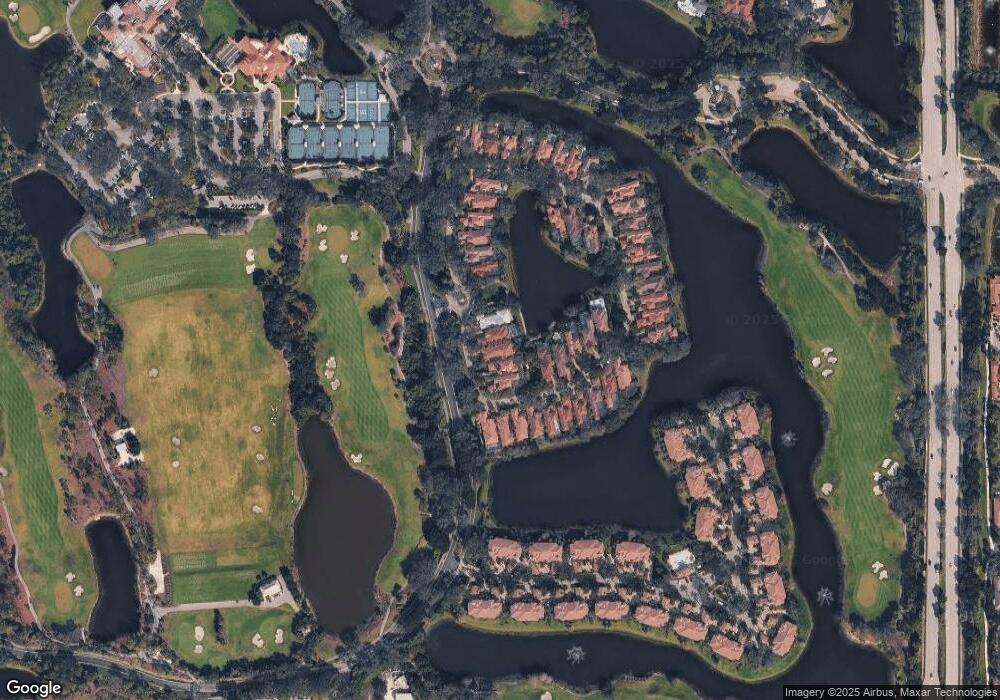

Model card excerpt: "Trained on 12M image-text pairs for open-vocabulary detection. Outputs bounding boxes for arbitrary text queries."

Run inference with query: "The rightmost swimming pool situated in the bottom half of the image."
[667,550,696,571]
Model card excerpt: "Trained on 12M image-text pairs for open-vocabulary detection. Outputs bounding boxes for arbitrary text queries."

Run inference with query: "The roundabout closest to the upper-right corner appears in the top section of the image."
[694,78,743,124]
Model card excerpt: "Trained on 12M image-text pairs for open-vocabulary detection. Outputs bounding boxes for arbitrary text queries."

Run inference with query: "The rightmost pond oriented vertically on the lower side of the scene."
[86,517,140,639]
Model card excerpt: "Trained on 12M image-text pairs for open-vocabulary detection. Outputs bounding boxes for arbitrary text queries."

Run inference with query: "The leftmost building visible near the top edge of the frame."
[99,0,182,79]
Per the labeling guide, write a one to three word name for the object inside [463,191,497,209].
house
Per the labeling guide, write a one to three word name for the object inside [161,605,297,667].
golf course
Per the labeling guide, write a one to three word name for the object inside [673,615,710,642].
building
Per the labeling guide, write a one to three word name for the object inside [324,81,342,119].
tennis court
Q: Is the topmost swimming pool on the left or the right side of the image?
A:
left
